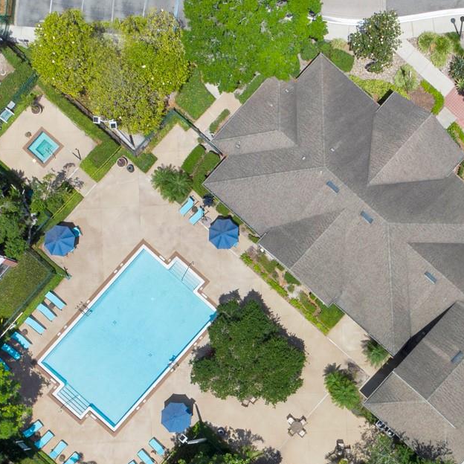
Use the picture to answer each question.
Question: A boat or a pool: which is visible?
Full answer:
Looking from above, you can make out a pool.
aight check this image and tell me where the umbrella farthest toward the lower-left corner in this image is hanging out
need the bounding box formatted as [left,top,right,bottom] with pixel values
[161,401,193,433]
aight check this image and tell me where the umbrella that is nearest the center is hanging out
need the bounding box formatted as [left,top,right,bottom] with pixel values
[209,218,240,249]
